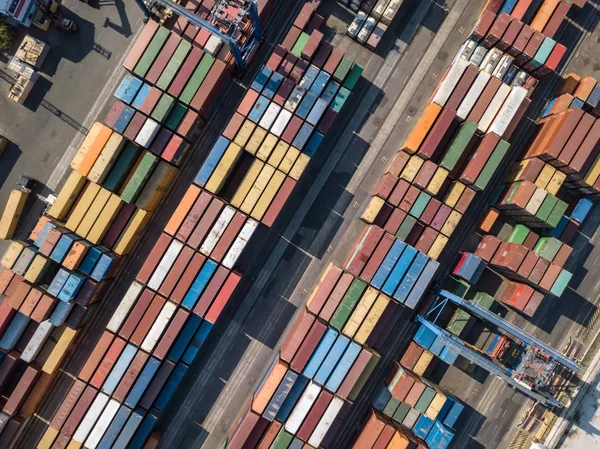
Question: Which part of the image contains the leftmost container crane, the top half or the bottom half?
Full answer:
The top half of the photo is where the leftmost container crane is.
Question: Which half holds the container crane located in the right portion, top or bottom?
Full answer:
Seen from above, the container crane located in the right portion lies in the bottom half of the view.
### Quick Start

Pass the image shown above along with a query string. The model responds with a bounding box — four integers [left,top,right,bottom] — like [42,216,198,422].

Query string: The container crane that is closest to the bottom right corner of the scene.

[410,281,589,410]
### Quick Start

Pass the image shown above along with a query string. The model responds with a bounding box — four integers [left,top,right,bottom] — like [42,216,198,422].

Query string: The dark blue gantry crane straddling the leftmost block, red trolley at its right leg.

[138,0,267,74]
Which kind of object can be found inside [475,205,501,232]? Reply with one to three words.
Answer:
shipping container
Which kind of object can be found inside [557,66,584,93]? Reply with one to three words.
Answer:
shipping container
